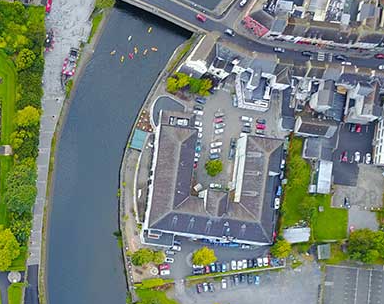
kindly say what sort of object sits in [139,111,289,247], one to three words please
building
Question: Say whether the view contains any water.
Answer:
Yes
